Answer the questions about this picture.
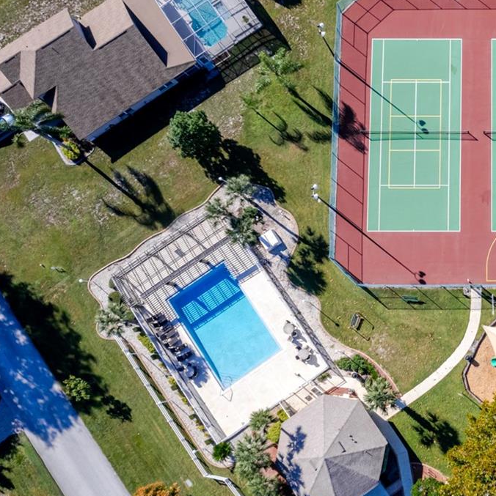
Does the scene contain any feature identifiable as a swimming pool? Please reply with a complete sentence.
Yes, the frame does contain a swimming pool.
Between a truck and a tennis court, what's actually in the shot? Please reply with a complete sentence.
It is a tennis court that can be seen here.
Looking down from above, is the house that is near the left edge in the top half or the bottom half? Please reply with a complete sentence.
You can find the house that is near the left edge in the top half.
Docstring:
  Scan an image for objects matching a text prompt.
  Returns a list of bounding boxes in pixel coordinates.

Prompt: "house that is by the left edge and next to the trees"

[0,0,198,140]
